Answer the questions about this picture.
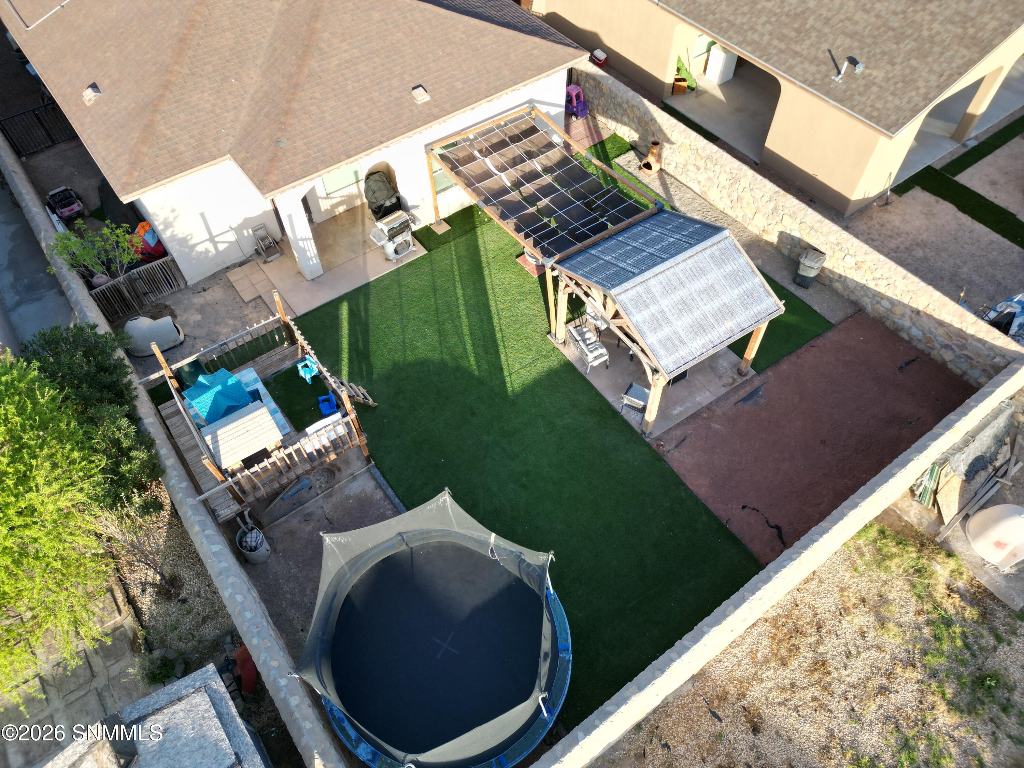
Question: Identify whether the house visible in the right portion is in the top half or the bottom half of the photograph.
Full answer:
It is in the top half that the house visible in the right portion appears.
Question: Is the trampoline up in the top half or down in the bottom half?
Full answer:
The trampoline sits in the bottom half of the picture.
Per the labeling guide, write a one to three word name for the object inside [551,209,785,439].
gazebo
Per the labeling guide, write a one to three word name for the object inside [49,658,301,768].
shed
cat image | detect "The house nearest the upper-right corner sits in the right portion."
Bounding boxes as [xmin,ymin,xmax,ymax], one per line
[511,0,1024,216]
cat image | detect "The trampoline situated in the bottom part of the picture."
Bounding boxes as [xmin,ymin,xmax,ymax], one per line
[288,486,574,768]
